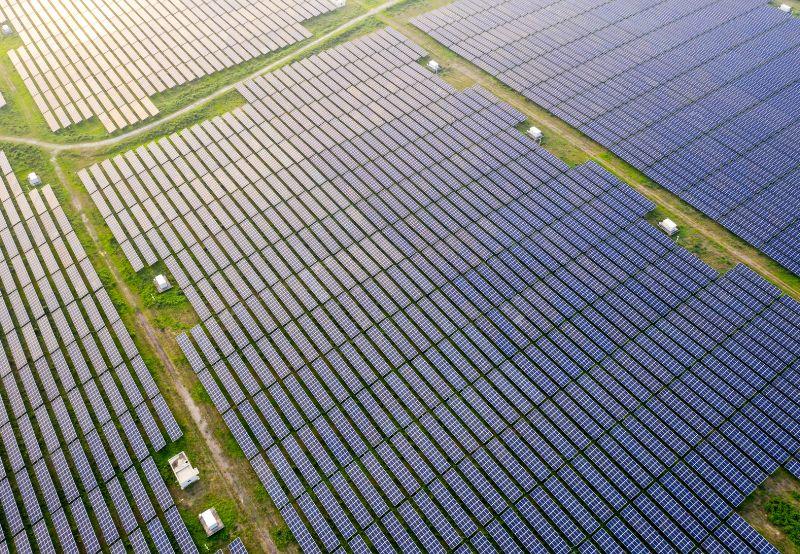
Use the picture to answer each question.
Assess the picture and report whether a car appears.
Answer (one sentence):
No, no car can be seen from above.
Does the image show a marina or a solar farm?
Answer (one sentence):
This looks like a solar farm.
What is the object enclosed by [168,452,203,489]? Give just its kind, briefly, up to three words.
building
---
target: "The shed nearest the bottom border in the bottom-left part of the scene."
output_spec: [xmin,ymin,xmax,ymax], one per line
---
[195,506,225,538]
